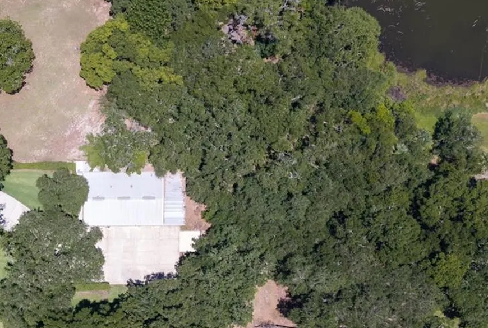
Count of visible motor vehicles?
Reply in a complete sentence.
No motor vehicles are visible.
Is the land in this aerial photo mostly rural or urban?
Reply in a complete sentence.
This place is rural.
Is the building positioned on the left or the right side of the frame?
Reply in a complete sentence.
You can find the building on the left side of the picture.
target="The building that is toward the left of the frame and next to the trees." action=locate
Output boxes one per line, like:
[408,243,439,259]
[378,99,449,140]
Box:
[82,170,184,226]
